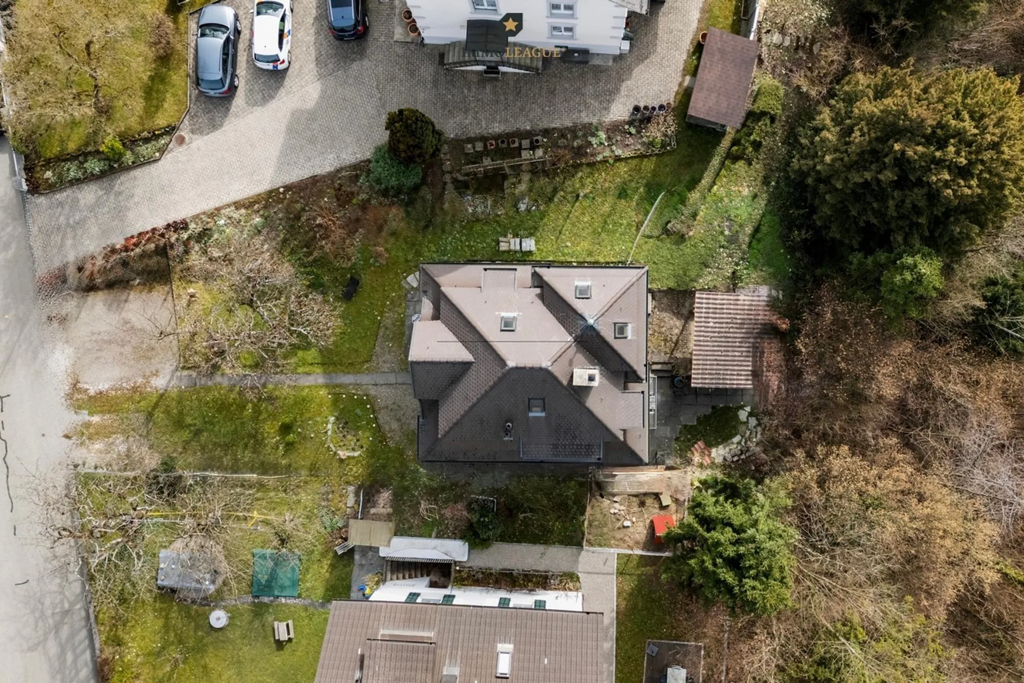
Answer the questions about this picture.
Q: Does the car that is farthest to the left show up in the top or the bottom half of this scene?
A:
top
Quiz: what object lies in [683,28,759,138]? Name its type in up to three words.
shed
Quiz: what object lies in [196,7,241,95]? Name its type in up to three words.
car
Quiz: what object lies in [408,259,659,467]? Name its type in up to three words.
house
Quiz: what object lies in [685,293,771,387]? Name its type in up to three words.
shed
